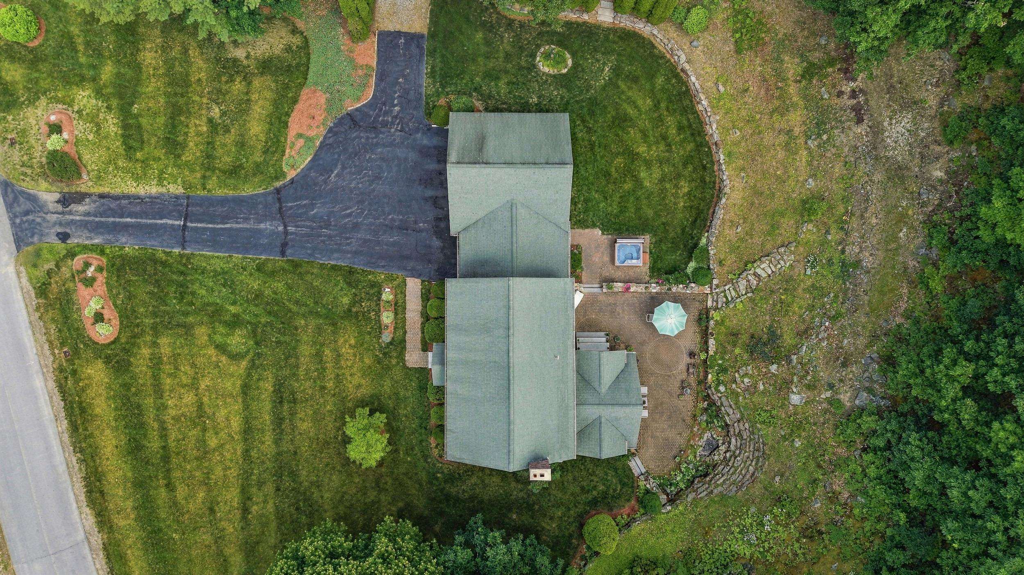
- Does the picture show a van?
No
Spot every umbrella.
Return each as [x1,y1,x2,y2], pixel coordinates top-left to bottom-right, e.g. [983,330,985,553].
[653,301,686,335]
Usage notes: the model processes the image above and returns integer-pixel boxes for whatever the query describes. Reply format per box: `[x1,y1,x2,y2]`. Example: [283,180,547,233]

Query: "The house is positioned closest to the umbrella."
[431,110,642,482]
